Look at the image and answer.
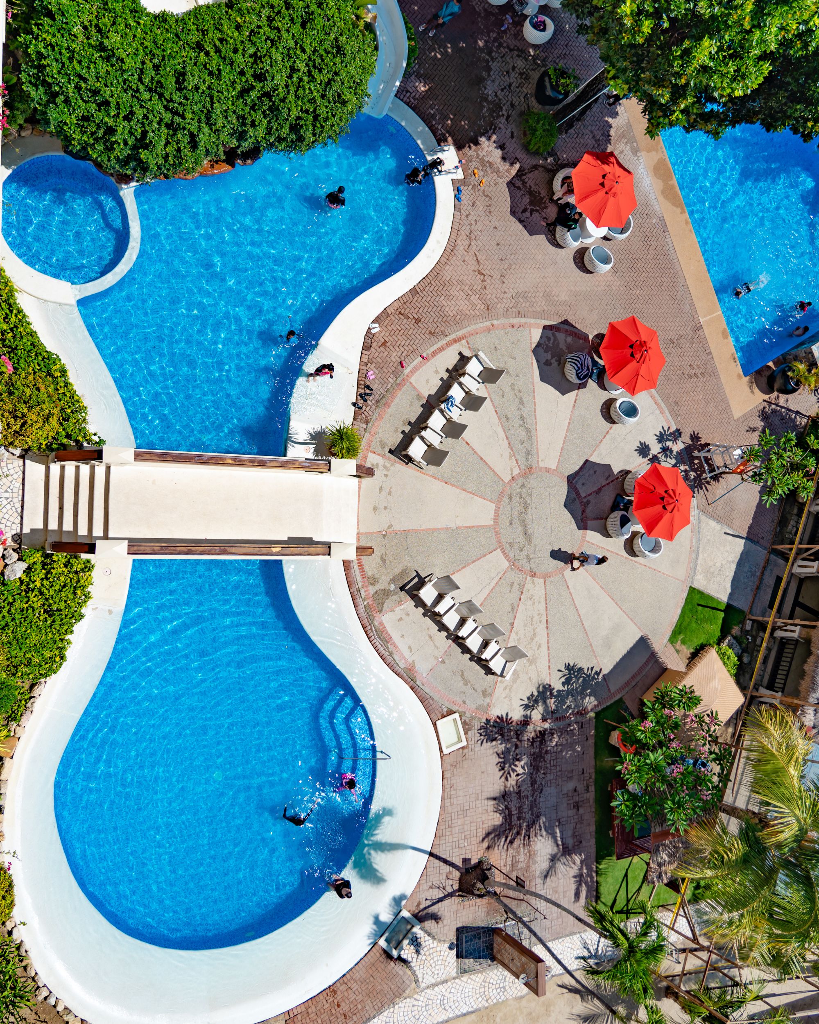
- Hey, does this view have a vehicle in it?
No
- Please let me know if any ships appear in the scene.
No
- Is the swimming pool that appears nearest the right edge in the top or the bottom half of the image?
top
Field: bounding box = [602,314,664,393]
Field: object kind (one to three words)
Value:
umbrella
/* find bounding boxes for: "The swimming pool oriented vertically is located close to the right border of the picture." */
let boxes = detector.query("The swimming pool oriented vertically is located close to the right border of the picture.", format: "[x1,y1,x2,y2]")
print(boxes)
[625,16,819,375]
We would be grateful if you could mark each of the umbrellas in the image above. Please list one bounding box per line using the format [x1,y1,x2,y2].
[602,314,664,393]
[570,153,635,232]
[632,463,693,541]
